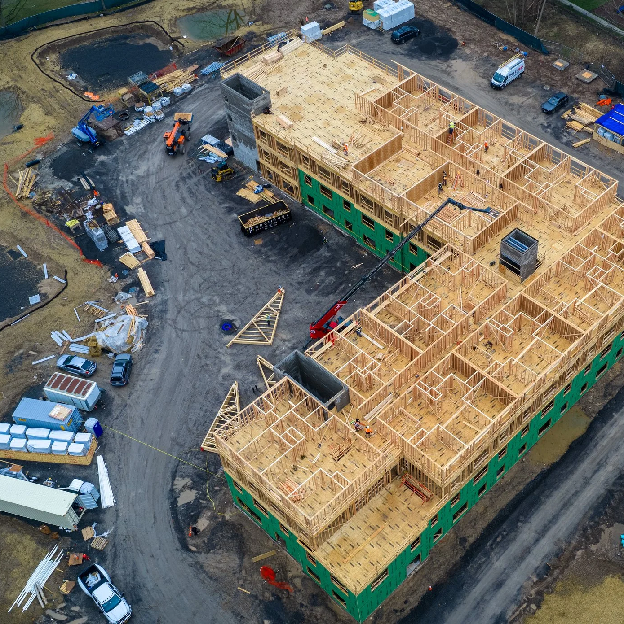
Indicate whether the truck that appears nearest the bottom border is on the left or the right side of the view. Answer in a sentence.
The truck that appears nearest the bottom border is on the left side of the image.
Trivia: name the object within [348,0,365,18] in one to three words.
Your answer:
work vehicle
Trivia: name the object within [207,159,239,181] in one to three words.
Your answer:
work vehicle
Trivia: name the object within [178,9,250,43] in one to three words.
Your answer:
pond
